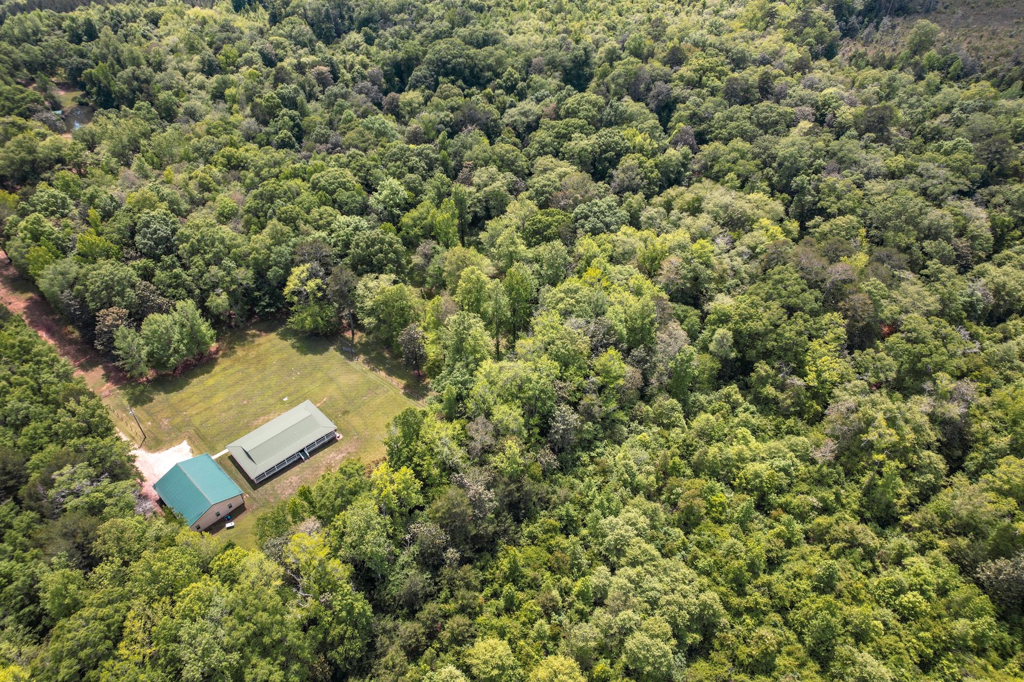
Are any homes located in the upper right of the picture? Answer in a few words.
No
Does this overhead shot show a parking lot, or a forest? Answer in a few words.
forest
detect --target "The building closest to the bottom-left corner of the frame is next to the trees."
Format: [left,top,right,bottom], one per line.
[154,453,248,536]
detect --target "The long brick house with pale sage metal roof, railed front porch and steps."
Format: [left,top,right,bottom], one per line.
[226,399,337,485]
